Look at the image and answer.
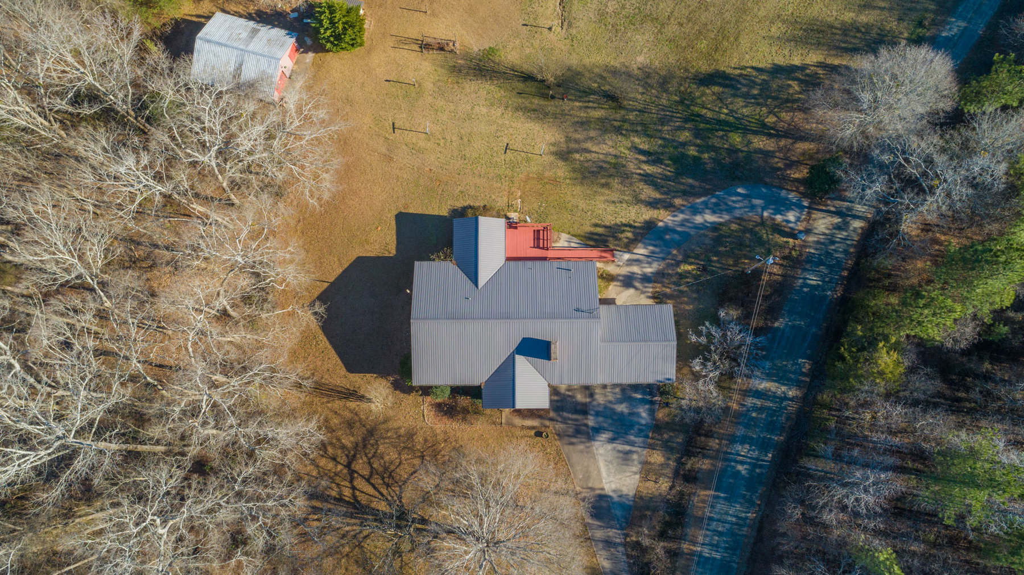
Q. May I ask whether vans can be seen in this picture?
No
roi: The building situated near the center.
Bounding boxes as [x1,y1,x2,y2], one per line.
[409,215,677,409]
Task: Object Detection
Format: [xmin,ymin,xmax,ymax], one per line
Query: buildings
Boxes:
[409,215,677,409]
[193,12,303,107]
[343,0,366,15]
